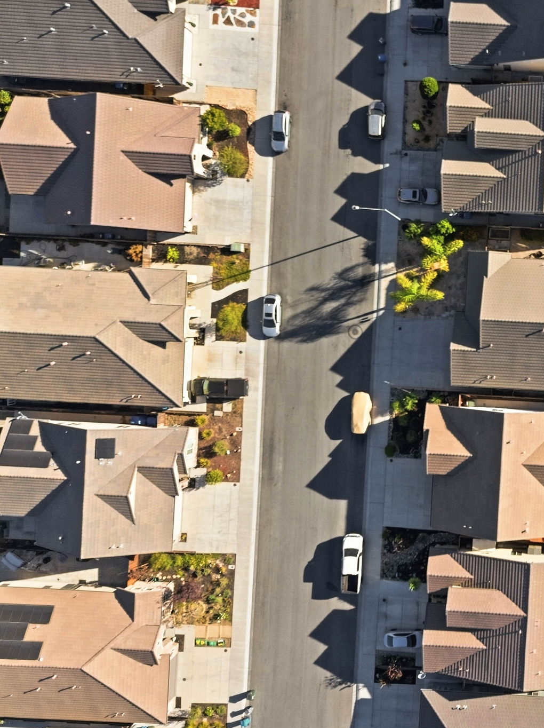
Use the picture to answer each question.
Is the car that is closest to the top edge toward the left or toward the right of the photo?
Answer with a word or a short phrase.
right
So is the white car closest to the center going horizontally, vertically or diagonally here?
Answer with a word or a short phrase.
vertically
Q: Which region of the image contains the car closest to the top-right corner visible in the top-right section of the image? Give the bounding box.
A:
[410,13,449,36]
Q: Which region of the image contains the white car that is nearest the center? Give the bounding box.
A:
[261,295,284,337]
